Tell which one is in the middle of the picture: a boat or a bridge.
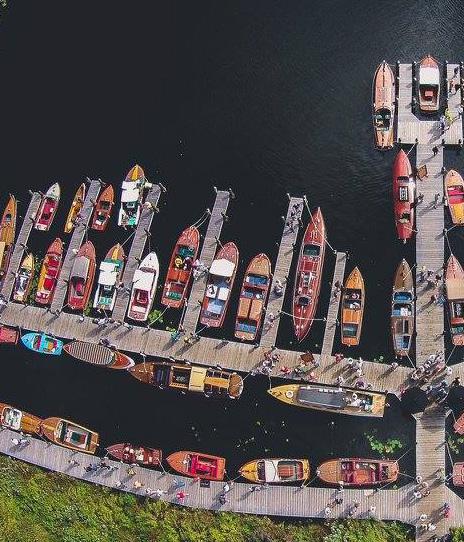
boat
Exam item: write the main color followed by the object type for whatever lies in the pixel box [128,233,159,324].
white boat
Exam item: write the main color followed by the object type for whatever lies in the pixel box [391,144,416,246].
red boat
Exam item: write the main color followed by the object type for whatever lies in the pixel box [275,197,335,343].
red boat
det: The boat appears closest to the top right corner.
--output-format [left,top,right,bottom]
[414,53,447,114]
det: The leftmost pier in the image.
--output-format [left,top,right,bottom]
[0,191,46,302]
